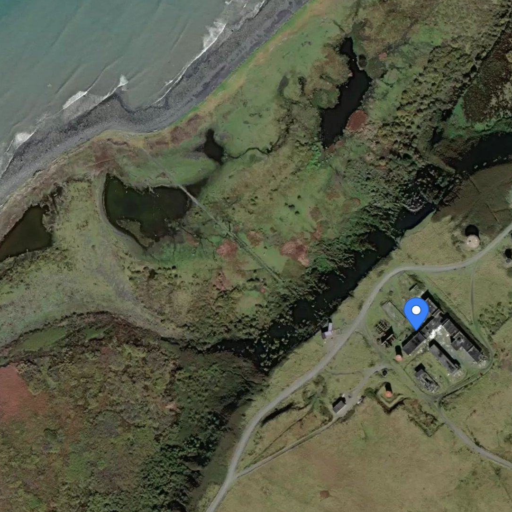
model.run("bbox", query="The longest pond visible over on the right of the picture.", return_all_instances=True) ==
[319,34,375,149]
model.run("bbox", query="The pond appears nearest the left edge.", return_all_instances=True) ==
[0,206,56,263]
